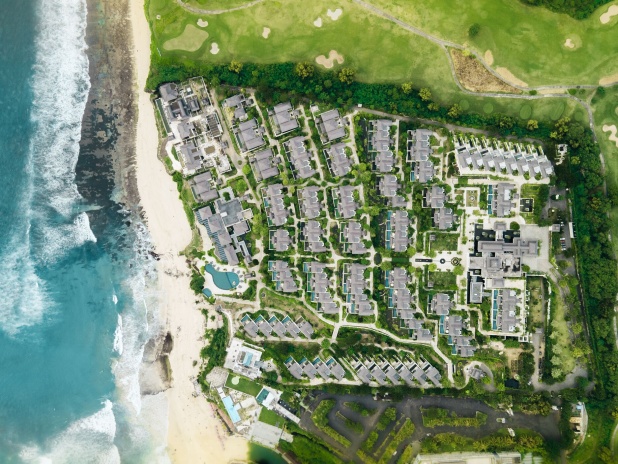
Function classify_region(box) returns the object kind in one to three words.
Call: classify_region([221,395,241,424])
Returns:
swimming pool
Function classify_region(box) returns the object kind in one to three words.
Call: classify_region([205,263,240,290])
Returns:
swimming pool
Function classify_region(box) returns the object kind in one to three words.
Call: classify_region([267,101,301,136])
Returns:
house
